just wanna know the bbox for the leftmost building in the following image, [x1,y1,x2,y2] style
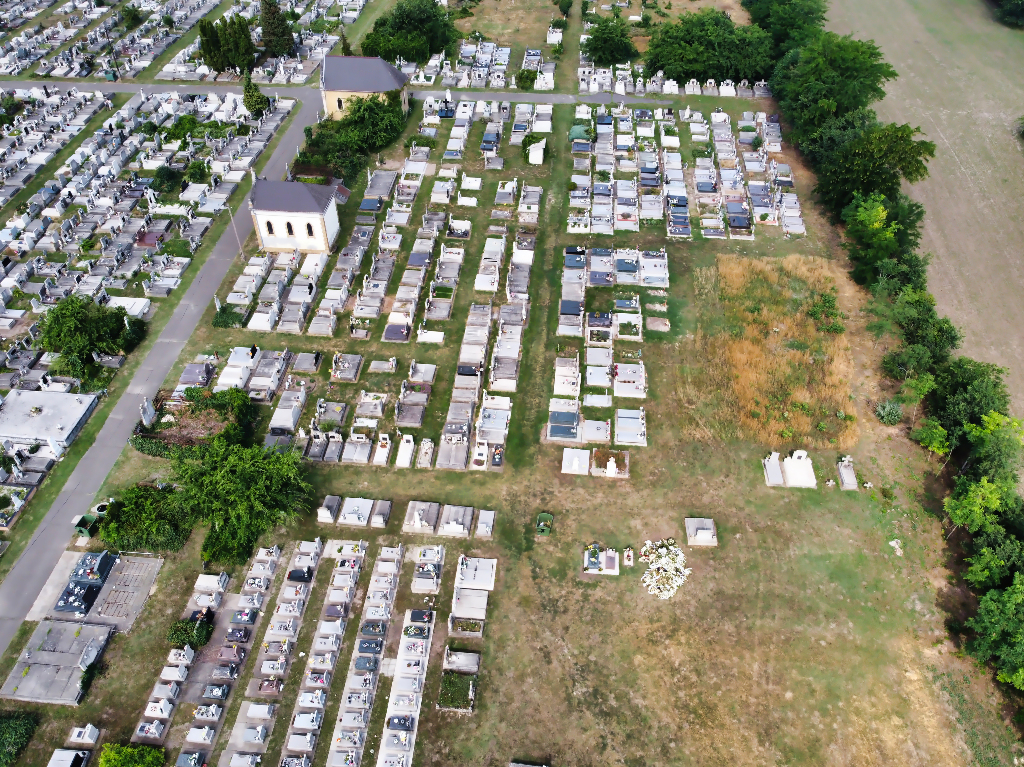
[245,159,343,254]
